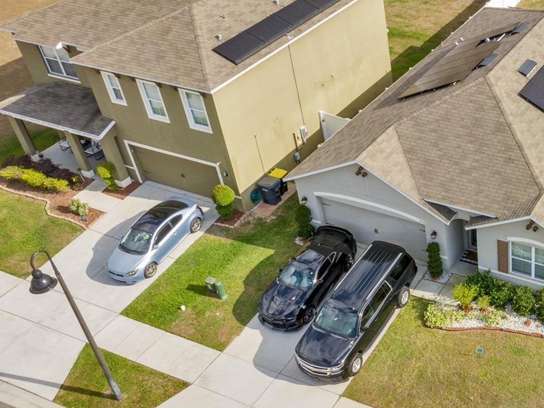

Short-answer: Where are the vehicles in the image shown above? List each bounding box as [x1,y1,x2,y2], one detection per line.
[290,243,418,387]
[254,221,358,329]
[101,193,203,280]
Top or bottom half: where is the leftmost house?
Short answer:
top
